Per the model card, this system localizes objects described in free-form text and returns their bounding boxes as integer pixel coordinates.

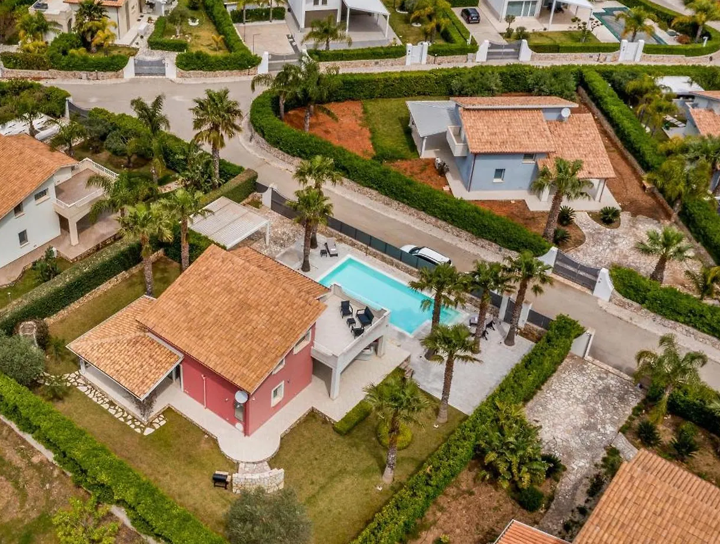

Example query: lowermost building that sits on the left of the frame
[61,243,393,435]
